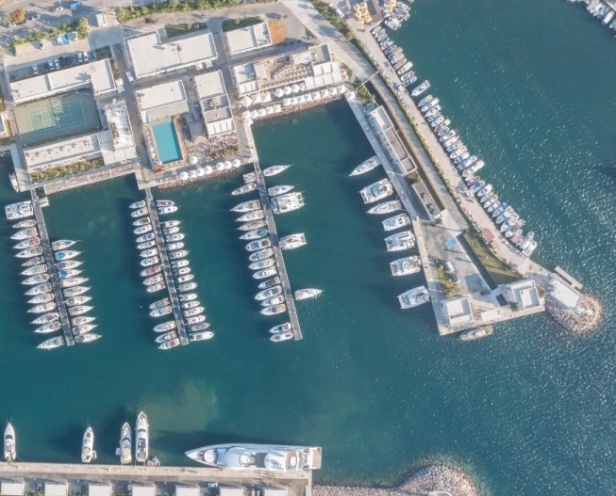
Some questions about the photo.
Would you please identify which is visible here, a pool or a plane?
pool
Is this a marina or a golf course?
marina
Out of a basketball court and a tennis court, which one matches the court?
tennis court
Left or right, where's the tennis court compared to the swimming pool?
to its left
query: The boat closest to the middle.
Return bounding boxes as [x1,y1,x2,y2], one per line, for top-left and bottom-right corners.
[278,234,306,250]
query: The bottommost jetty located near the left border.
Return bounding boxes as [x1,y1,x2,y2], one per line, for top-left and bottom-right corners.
[29,188,74,345]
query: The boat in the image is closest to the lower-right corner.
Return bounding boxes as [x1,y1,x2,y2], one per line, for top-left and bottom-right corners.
[459,322,495,340]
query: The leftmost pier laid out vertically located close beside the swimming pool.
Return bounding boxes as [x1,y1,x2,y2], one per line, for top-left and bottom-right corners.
[144,187,188,344]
